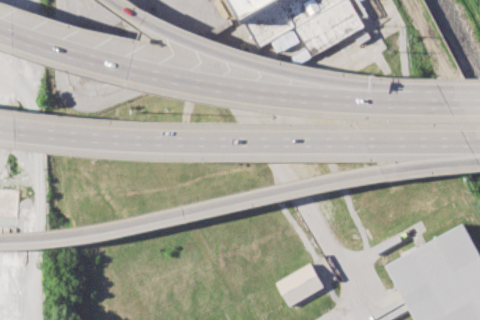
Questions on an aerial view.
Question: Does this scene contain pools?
No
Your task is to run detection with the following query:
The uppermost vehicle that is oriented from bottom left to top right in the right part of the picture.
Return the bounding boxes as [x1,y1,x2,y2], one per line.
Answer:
[376,235,408,258]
